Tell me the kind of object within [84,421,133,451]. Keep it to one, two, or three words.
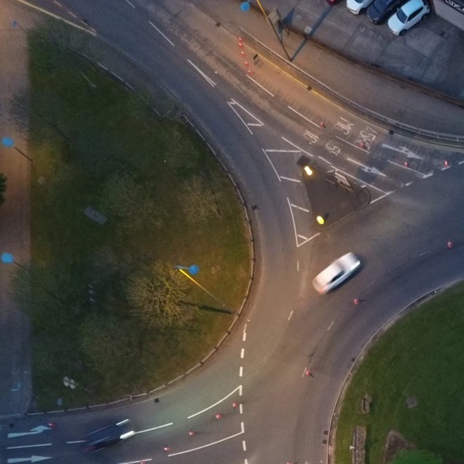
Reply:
car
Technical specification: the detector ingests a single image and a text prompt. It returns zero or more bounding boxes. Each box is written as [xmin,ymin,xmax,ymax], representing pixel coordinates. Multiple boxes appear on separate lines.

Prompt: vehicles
[348,0,376,13]
[368,0,409,23]
[314,254,362,294]
[84,421,133,451]
[388,0,432,34]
